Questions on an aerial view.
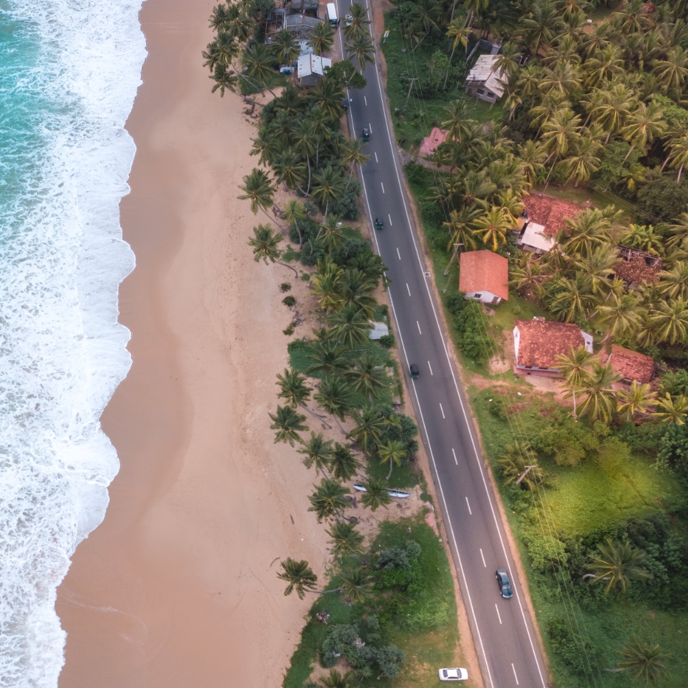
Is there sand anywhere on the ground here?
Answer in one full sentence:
Yes, the picture does contain sand.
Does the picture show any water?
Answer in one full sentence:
Yes, there's water in this view.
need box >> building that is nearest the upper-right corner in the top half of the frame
[463,55,513,105]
